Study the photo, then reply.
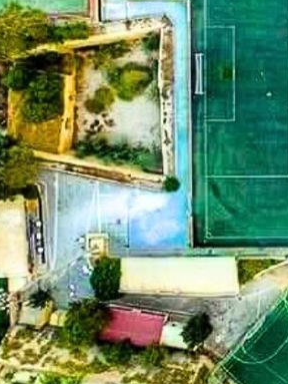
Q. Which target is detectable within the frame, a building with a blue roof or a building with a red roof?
building with a red roof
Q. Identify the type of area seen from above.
sports ground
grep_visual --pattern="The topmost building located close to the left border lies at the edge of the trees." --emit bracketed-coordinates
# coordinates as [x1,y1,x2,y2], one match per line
[0,195,34,278]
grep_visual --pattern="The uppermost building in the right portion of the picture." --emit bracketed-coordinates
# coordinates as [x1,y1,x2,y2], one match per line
[119,253,244,294]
